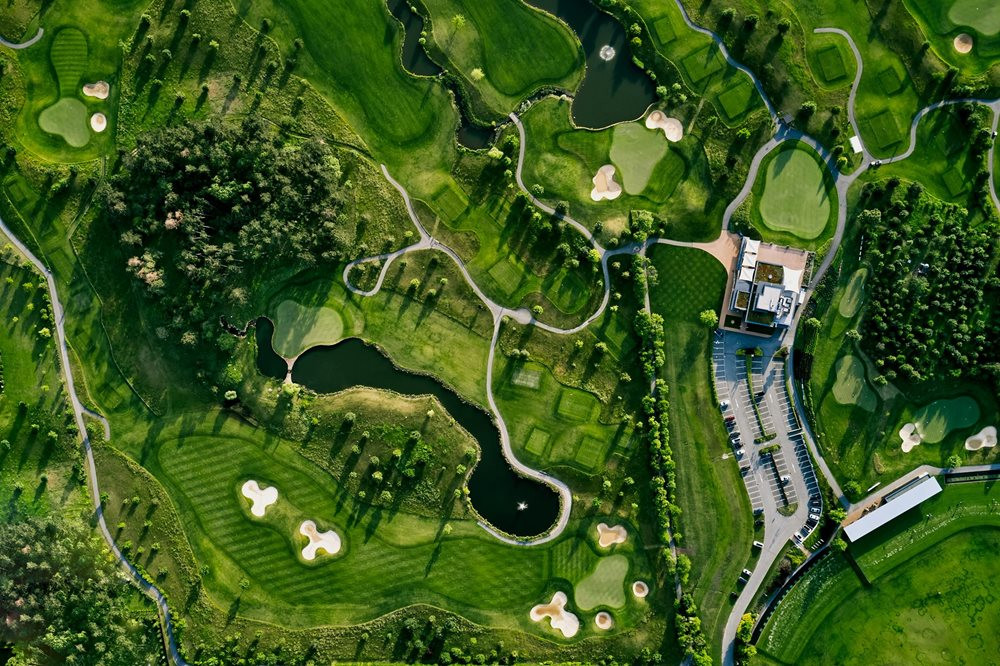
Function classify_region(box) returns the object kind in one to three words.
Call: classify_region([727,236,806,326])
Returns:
building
